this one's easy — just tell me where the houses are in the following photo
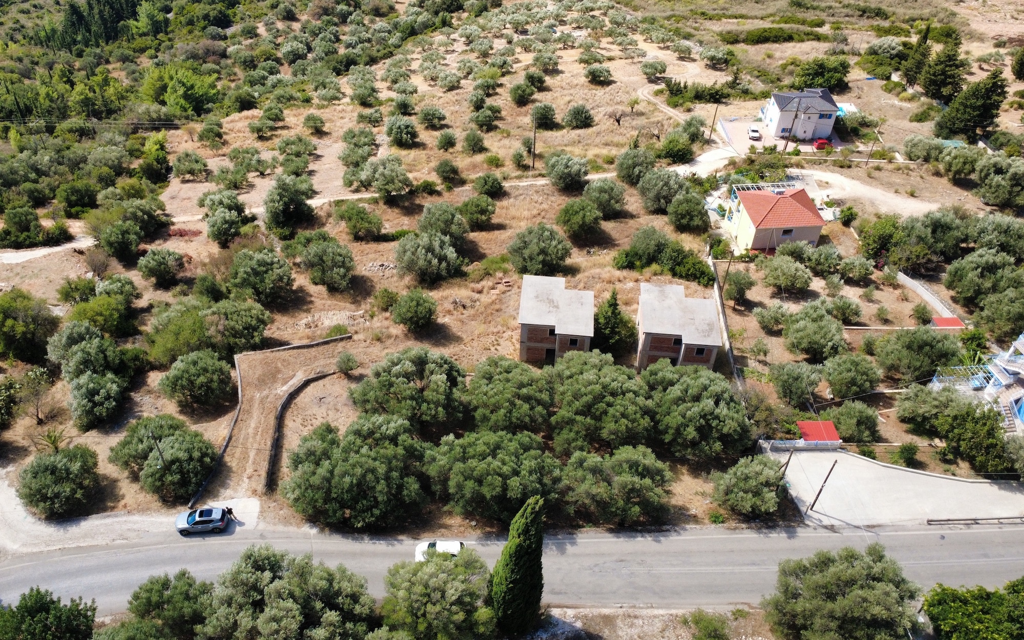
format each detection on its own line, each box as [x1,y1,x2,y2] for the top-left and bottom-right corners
[519,276,595,380]
[636,283,724,379]
[940,325,1024,424]
[727,182,827,262]
[754,86,841,138]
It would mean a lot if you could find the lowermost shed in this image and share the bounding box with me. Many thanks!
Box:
[796,421,839,443]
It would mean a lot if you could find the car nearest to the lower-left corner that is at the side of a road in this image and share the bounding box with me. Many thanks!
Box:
[173,504,231,536]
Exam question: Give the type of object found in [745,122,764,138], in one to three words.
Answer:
vehicle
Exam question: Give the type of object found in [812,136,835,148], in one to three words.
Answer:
vehicle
